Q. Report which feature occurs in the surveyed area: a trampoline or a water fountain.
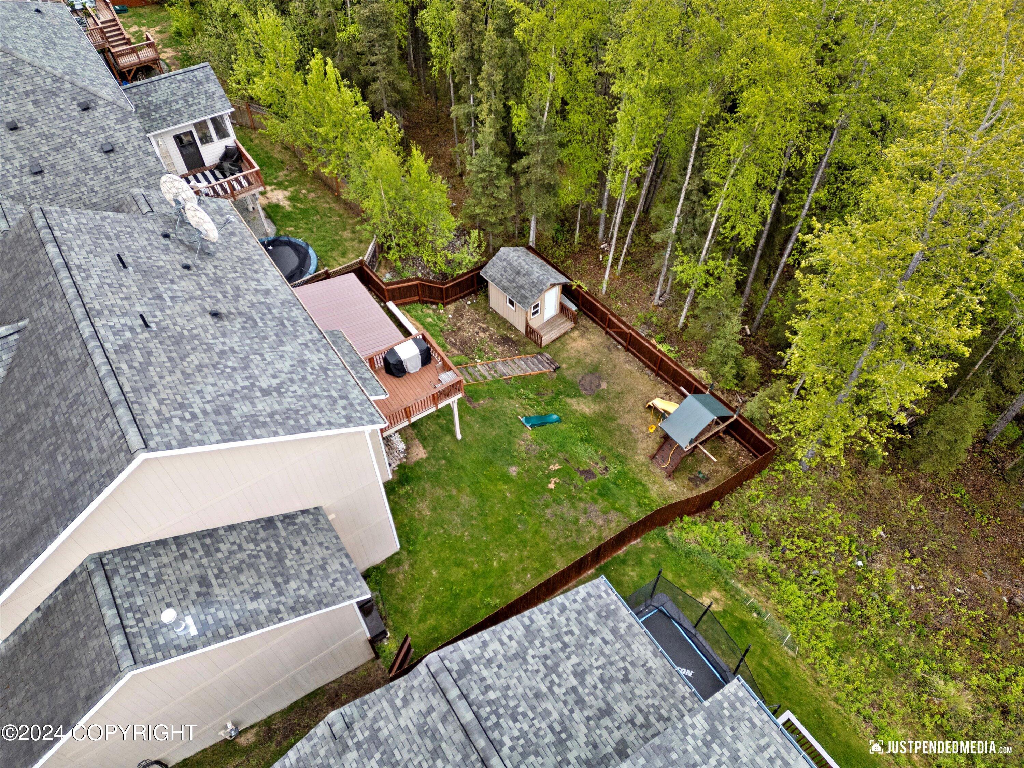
trampoline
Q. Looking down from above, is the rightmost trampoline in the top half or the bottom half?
bottom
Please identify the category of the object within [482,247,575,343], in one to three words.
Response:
shed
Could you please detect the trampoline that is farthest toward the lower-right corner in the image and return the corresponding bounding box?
[622,565,803,714]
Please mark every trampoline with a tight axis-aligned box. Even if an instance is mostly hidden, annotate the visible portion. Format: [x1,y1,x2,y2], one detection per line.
[266,237,316,280]
[622,565,803,714]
